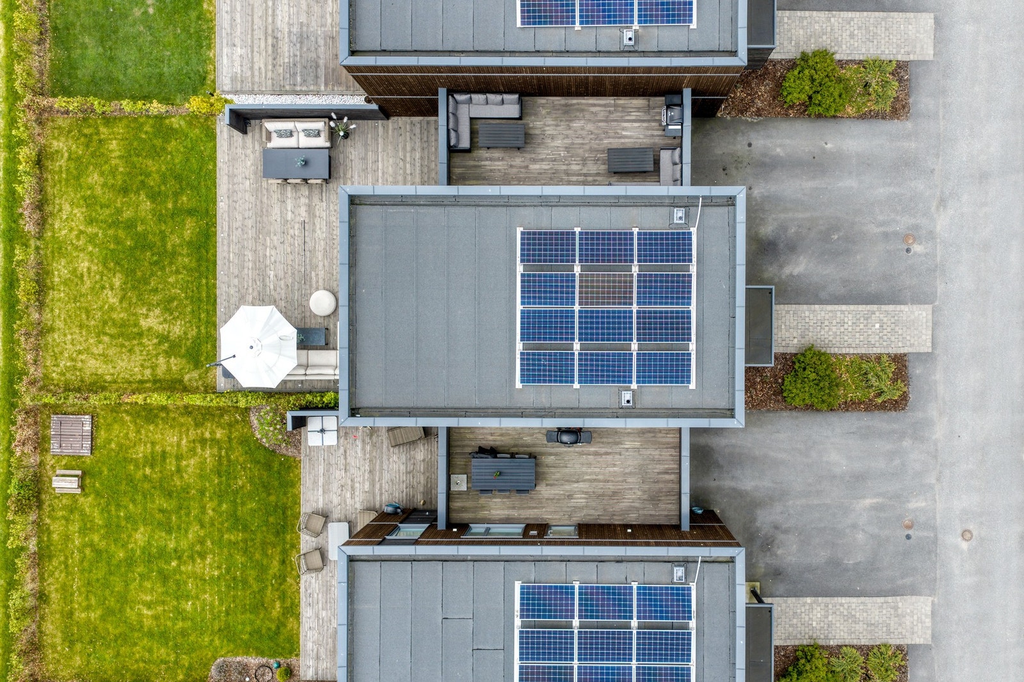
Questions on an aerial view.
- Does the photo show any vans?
No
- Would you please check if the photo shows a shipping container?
No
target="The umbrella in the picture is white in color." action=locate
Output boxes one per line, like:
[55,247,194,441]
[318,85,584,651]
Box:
[207,305,297,388]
